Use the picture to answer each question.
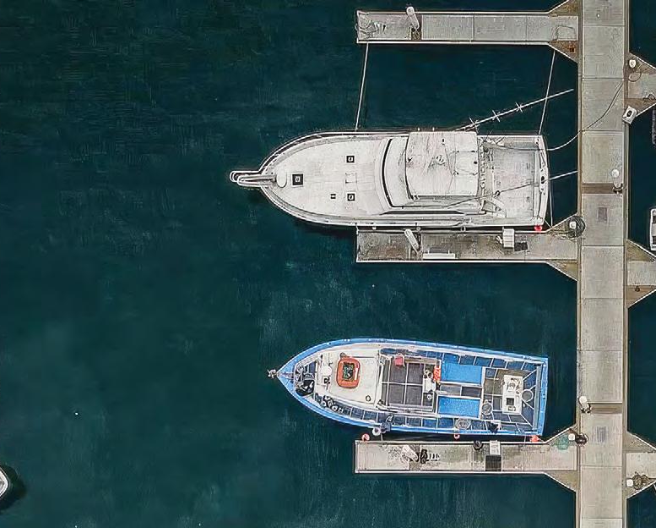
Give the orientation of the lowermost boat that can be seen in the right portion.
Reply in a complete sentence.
In this picture, the lowermost boat that can be seen in the right portion lies horizontally.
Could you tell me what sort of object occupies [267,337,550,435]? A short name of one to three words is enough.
boat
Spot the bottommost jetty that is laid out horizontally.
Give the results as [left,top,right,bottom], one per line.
[355,425,576,492]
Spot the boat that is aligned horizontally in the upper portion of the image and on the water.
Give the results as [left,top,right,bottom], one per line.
[230,88,574,229]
